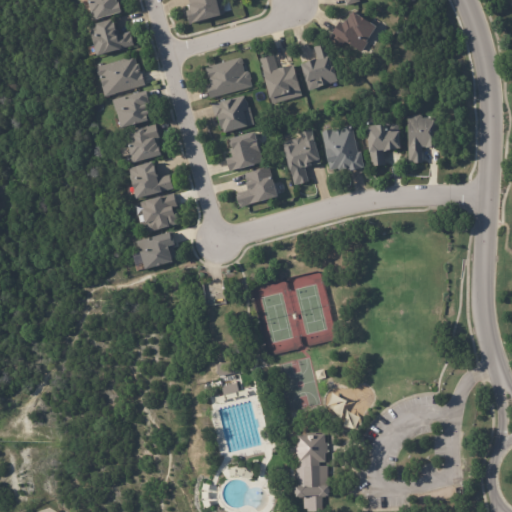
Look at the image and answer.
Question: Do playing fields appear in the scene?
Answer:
Yes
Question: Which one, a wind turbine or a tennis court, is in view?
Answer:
tennis court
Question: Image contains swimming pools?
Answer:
Yes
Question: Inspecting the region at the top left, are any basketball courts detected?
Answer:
No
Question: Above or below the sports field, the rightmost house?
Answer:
above it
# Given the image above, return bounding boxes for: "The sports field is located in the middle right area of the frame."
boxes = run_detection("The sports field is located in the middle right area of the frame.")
[366,221,447,394]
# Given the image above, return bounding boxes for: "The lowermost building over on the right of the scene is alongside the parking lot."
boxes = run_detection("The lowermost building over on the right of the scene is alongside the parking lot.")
[295,434,330,512]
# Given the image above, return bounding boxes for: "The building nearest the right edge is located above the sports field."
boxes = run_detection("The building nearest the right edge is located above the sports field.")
[408,114,434,163]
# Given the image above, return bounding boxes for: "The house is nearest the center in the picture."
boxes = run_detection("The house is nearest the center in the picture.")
[238,166,277,206]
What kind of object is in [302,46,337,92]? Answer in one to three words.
house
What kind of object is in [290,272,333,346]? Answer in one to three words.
tennis court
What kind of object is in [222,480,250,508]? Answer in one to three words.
swimming pool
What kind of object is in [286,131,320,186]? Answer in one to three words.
house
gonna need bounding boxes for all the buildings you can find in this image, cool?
[130,162,174,198]
[218,98,254,132]
[113,94,148,126]
[92,20,134,54]
[302,46,337,92]
[206,60,252,96]
[408,114,434,163]
[184,0,220,23]
[227,134,260,170]
[261,56,302,104]
[98,60,145,95]
[322,126,362,172]
[369,125,400,166]
[223,384,240,398]
[138,232,174,268]
[141,194,178,232]
[295,434,330,512]
[333,12,376,50]
[130,126,160,162]
[238,166,277,206]
[286,131,320,186]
